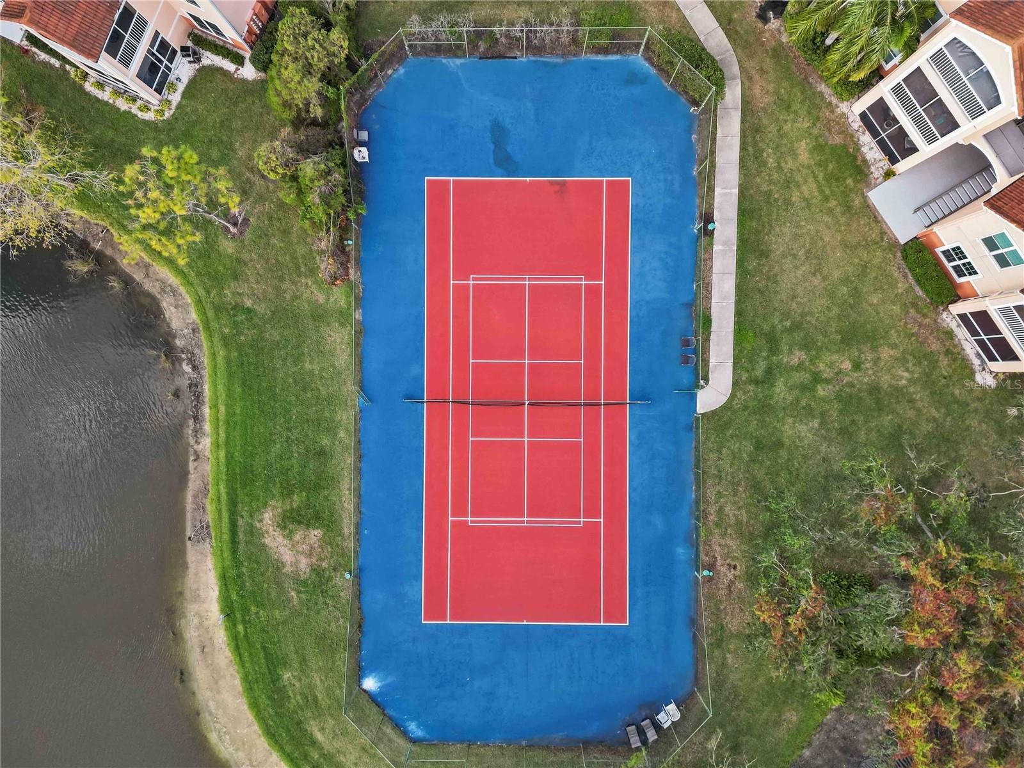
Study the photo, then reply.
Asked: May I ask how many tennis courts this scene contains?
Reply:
1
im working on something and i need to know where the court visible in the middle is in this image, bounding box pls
[360,56,697,745]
